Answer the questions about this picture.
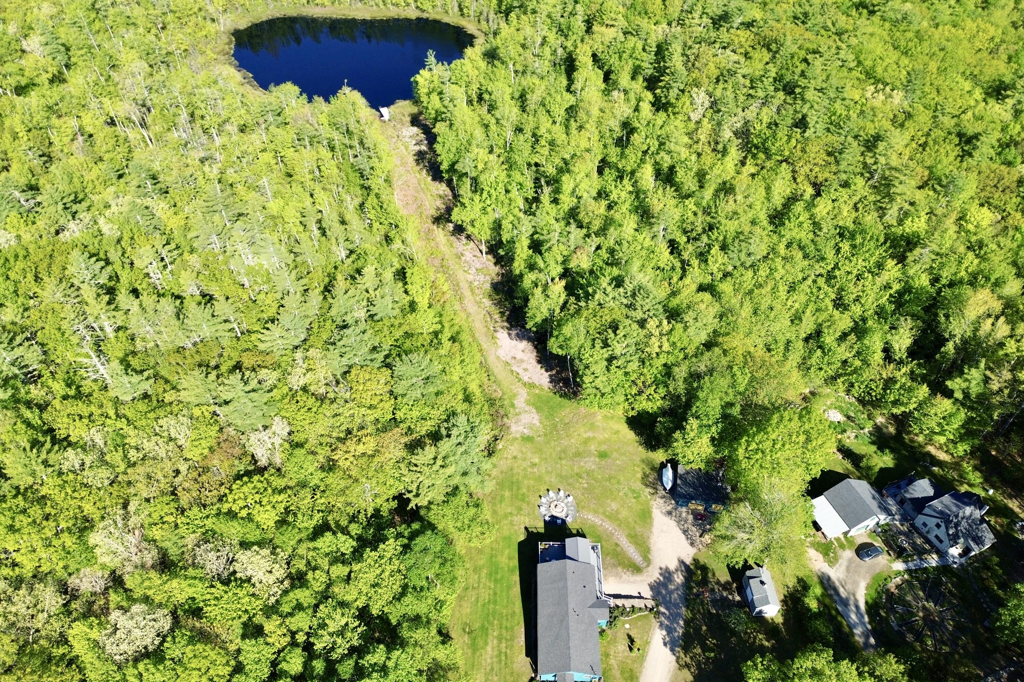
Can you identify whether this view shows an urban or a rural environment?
rural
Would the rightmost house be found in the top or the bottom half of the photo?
bottom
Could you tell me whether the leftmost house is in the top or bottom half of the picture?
bottom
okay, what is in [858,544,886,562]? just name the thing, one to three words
car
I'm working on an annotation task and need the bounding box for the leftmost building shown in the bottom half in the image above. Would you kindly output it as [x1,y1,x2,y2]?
[537,537,614,682]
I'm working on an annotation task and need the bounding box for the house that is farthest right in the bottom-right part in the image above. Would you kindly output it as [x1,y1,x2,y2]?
[882,471,998,570]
